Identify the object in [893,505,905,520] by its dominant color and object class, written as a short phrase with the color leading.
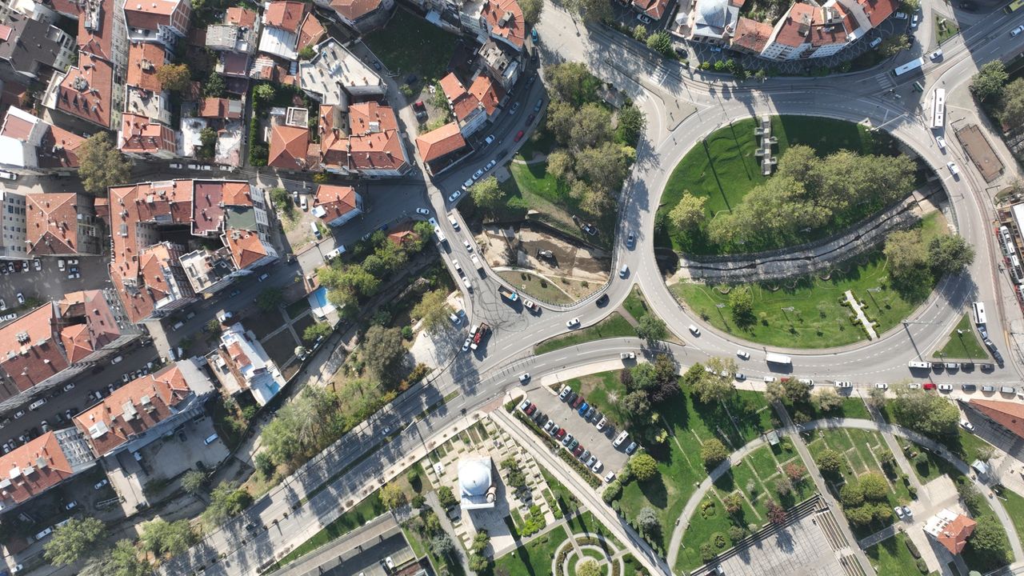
white vehicle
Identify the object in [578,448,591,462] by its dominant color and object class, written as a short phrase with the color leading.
gray vehicle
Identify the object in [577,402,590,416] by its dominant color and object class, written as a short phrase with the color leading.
blue vehicle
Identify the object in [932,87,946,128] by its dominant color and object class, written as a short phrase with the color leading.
white vehicle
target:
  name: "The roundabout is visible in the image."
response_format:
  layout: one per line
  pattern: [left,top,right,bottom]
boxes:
[620,80,989,388]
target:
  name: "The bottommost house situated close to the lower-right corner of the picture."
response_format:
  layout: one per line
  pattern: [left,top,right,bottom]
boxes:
[915,504,976,555]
